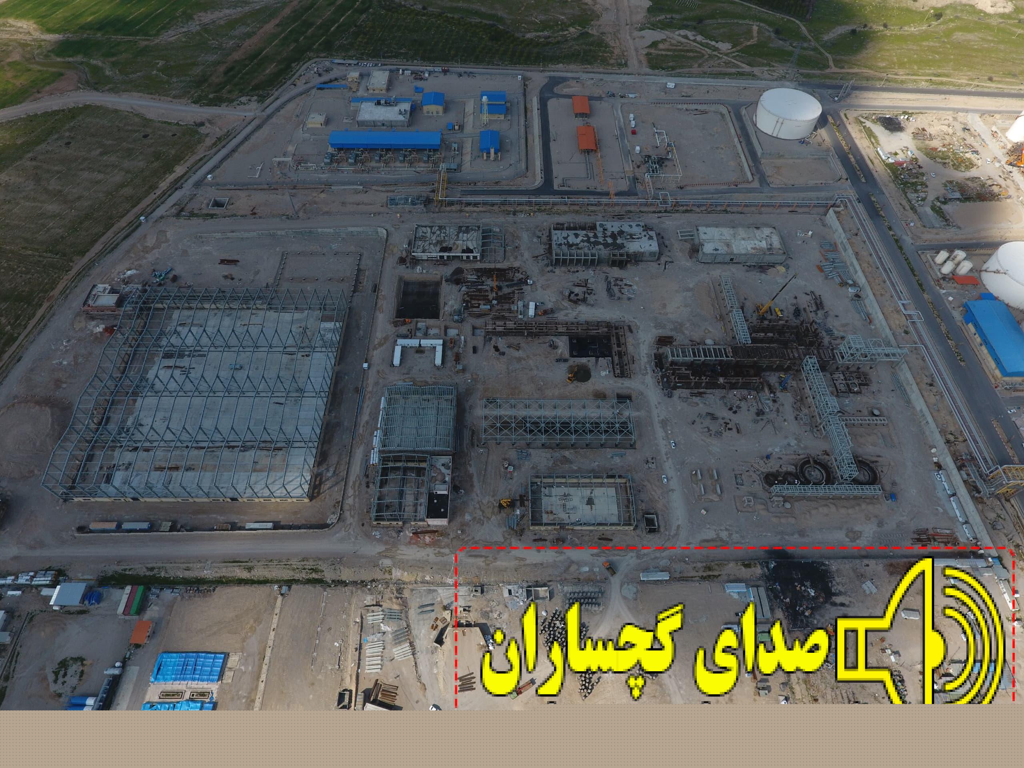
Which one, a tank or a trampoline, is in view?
tank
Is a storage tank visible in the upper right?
Yes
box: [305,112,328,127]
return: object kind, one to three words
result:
building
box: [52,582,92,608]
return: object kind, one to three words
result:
shed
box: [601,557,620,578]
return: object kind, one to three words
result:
vehicle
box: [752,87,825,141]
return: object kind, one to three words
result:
storage tank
